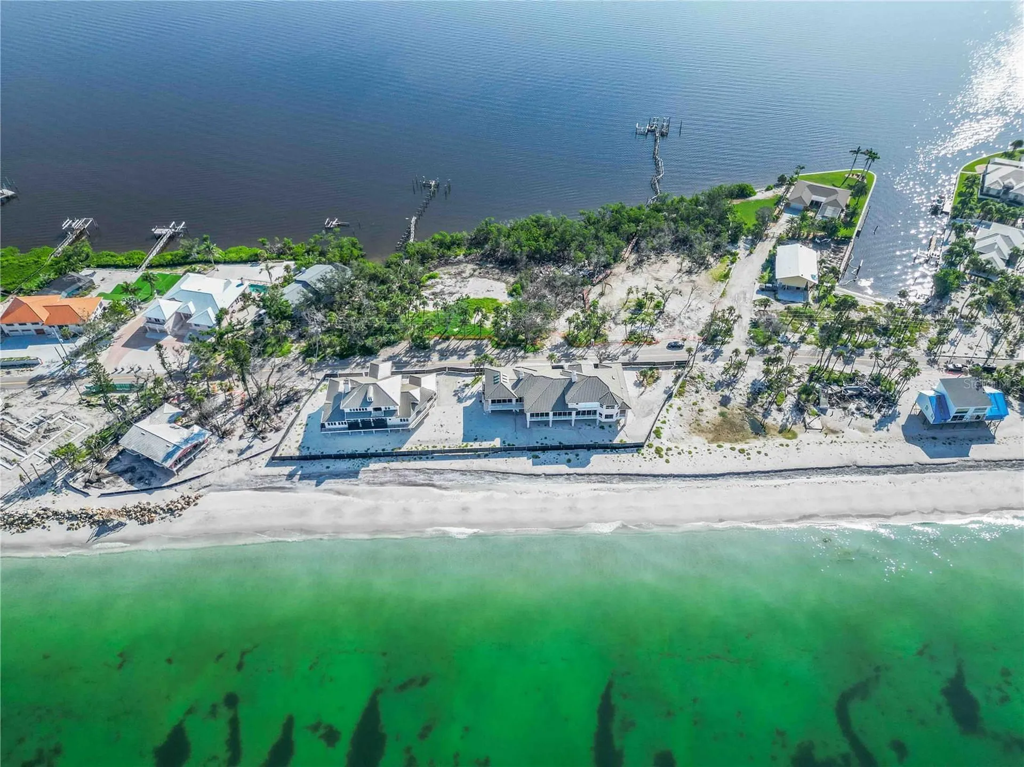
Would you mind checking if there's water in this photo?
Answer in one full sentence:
Yes, water shows up in the scene.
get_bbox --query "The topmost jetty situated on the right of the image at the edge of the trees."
[636,117,670,195]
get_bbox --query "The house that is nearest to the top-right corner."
[982,159,1024,200]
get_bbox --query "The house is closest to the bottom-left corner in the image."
[119,404,225,478]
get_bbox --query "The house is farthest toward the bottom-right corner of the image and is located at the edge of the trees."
[912,377,1008,434]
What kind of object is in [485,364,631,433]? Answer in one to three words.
house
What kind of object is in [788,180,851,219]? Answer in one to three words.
house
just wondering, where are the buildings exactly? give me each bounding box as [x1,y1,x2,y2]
[322,362,440,443]
[788,180,851,219]
[283,263,349,316]
[912,377,1008,434]
[770,244,818,295]
[0,295,104,339]
[119,404,225,478]
[982,159,1024,200]
[143,273,248,340]
[973,226,1024,274]
[485,364,631,433]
